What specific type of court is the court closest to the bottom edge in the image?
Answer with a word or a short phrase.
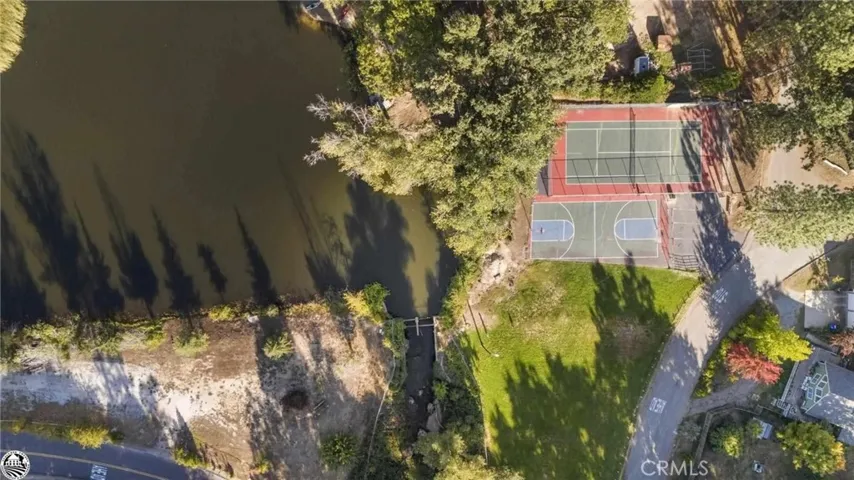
basketball court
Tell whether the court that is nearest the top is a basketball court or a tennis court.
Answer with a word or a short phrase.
tennis court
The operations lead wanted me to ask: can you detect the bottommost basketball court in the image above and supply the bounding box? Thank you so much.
[526,194,717,272]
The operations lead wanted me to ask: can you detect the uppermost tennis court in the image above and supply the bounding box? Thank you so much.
[551,108,717,194]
